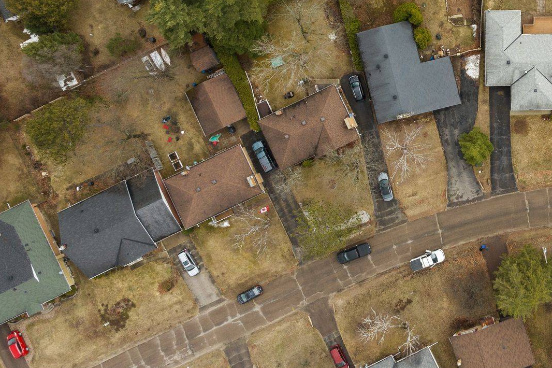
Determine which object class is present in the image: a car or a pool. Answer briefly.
car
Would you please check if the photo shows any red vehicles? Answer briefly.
Yes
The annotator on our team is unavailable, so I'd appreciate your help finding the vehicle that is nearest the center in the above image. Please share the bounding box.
[252,139,275,175]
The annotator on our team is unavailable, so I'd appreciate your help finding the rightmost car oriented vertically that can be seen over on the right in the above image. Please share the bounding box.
[378,171,396,201]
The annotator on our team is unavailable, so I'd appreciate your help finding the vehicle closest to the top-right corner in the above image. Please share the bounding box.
[347,74,367,103]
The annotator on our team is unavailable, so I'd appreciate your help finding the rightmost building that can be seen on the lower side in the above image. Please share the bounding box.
[448,314,536,368]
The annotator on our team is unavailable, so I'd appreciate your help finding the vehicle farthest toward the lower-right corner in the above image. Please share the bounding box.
[410,246,446,272]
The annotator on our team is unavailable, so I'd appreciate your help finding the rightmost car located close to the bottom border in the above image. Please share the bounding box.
[330,342,350,368]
